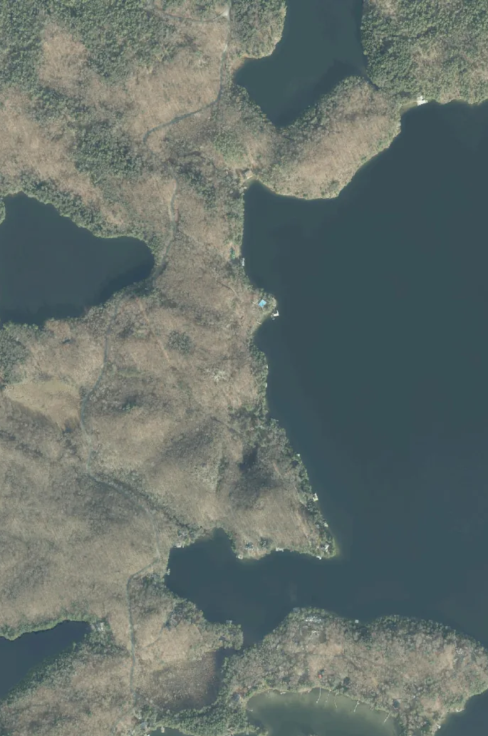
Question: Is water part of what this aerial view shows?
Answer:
Yes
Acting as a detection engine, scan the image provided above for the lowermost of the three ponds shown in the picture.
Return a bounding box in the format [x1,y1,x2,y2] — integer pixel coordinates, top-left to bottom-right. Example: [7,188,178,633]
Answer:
[0,622,88,695]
